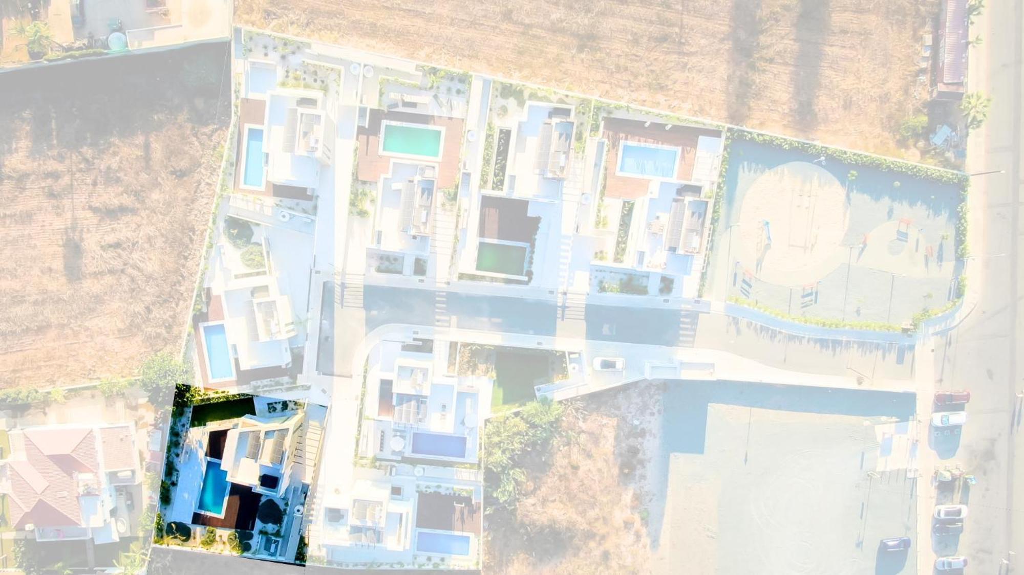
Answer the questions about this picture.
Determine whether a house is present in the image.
Yes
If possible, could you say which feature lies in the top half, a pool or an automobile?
pool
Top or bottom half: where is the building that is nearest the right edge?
top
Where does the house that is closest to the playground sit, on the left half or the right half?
right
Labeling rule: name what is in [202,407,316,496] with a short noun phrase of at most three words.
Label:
house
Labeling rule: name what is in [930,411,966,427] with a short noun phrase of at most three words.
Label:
car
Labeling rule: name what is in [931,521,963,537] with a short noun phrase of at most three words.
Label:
car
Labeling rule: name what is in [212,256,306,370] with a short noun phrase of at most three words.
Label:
house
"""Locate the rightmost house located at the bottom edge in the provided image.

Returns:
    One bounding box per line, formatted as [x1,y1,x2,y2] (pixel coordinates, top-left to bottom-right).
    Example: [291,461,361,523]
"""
[322,471,418,551]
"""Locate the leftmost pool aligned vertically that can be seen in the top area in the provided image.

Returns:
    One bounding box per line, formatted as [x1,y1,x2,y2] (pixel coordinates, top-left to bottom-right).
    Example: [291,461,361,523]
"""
[240,125,266,191]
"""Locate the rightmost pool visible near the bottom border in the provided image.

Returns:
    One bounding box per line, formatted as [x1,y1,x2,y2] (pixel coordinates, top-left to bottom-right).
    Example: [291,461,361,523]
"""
[413,529,473,559]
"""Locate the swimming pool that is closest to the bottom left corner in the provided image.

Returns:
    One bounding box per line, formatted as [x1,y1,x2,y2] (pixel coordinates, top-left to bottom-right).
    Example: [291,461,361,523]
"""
[194,459,229,518]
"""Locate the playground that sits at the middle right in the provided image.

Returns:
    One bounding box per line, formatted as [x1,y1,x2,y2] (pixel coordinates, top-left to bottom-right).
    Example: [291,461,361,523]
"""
[709,130,966,330]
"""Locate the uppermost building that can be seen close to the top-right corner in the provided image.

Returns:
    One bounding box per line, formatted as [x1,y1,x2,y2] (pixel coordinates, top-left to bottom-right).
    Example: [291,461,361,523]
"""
[925,0,967,100]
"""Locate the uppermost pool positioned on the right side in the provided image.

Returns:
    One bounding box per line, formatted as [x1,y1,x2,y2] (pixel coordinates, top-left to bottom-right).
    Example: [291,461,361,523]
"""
[616,142,680,180]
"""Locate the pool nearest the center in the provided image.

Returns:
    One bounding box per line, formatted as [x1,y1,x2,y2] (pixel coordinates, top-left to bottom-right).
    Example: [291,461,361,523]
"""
[473,239,530,278]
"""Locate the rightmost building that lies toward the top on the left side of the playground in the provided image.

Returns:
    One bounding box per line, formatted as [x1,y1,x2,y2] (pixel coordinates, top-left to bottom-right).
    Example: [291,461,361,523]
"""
[629,180,713,275]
